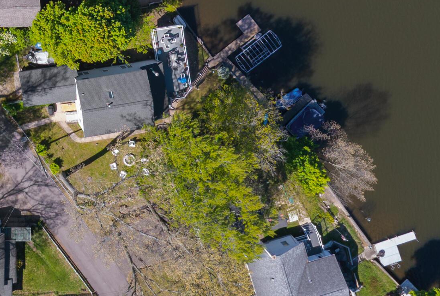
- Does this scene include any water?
Yes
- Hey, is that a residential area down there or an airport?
residential area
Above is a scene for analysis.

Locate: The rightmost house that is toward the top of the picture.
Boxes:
[72,61,164,137]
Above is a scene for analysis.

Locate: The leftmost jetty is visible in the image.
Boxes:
[205,31,261,68]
